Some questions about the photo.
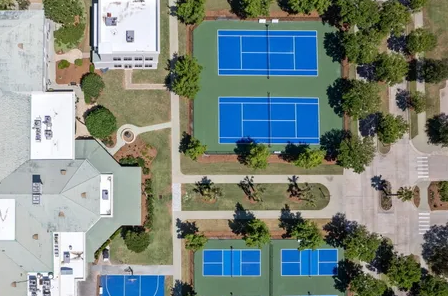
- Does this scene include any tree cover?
Yes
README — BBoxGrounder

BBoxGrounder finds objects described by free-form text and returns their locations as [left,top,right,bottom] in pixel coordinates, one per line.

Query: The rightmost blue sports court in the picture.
[281,250,337,277]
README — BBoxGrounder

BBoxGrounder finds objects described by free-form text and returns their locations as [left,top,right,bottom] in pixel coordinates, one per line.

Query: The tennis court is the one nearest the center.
[219,92,319,147]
